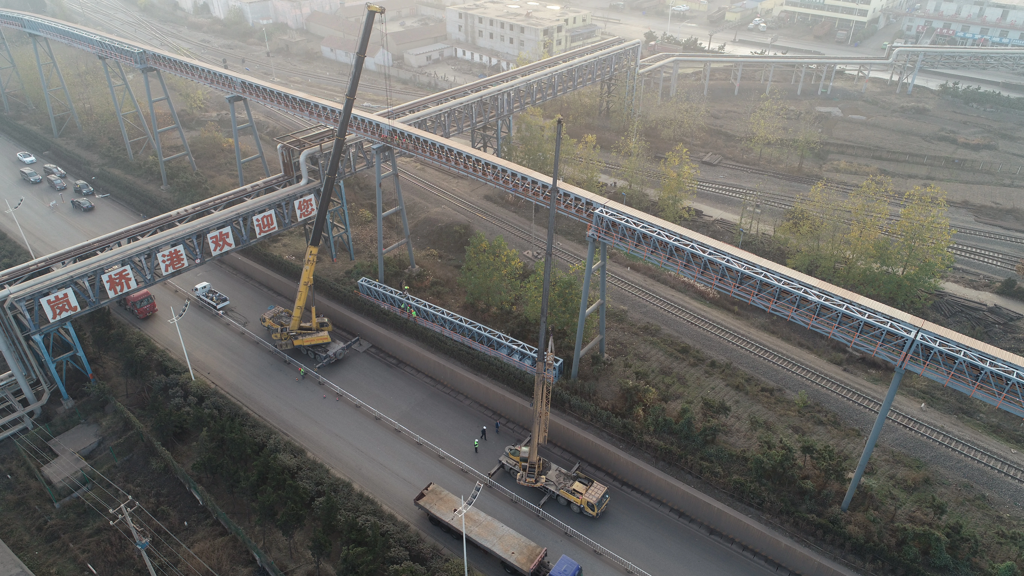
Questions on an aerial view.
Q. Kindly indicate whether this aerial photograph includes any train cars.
No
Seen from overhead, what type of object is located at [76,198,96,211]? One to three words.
vehicle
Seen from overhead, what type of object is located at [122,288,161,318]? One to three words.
truck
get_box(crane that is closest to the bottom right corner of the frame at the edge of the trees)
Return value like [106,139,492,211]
[488,99,616,520]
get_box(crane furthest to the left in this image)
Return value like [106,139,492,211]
[254,0,414,372]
